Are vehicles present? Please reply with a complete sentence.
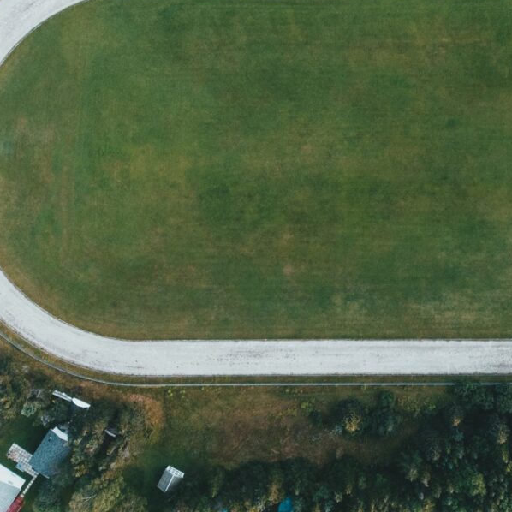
No, no vehicle can be seen from above.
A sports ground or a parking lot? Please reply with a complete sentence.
The area seen from above is a sports ground.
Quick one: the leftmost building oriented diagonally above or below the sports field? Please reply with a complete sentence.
You can see the leftmost building oriented diagonally below the sports field in the frame.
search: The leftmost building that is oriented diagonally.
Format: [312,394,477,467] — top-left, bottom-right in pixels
[29,427,72,477]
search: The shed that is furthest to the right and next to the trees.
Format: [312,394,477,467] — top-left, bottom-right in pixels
[158,466,184,495]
